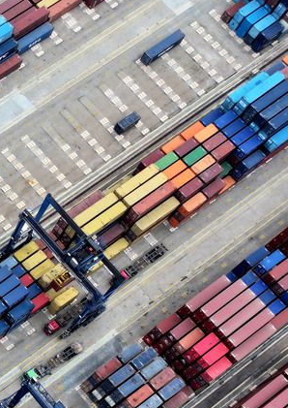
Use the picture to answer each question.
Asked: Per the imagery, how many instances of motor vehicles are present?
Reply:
3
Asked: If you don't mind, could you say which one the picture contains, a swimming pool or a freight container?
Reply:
freight container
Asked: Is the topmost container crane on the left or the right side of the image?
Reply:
left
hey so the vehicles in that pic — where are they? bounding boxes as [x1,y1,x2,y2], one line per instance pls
[22,340,78,382]
[43,293,93,334]
[124,239,171,276]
